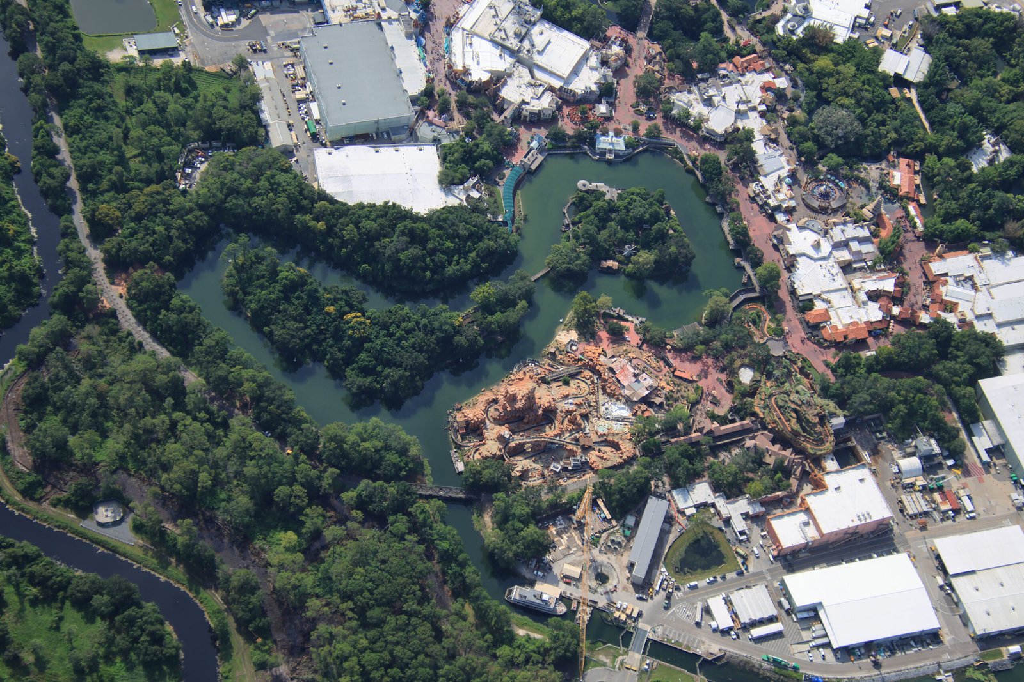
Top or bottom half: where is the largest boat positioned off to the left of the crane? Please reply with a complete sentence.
The bottom half of the photo is where the largest boat positioned off to the left of the crane is.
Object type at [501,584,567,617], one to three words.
boat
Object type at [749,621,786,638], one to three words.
vehicle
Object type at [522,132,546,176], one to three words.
building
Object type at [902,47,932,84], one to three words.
shed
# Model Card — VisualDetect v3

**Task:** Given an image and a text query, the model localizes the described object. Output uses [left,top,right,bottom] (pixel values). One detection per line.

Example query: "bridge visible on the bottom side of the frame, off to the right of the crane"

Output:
[626,615,653,666]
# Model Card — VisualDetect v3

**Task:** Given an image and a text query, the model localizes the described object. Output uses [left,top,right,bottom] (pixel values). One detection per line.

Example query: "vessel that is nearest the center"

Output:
[448,449,463,473]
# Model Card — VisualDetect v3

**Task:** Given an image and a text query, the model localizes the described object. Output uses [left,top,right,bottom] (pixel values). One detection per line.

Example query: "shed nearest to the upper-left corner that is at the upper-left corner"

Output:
[123,31,178,61]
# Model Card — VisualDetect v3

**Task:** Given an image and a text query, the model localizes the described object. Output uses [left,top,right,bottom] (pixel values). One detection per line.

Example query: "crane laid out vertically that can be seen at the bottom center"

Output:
[572,474,596,679]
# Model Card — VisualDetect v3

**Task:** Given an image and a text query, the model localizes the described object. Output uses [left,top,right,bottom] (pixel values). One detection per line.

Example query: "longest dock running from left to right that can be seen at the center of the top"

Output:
[547,141,676,163]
